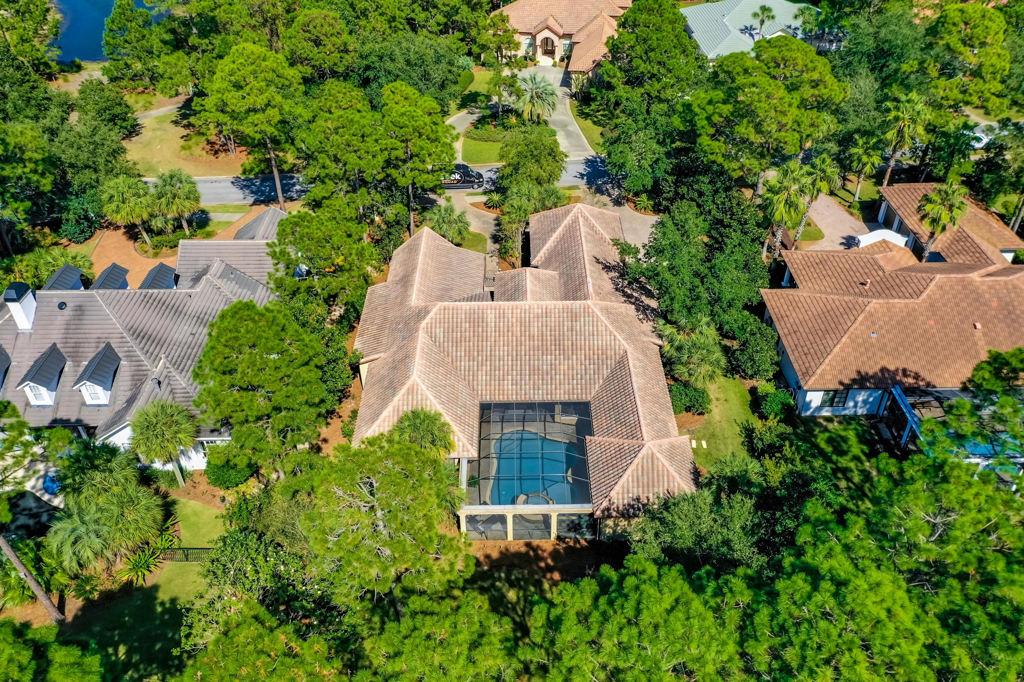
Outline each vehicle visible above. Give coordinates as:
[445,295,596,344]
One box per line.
[435,161,485,189]
[954,131,994,148]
